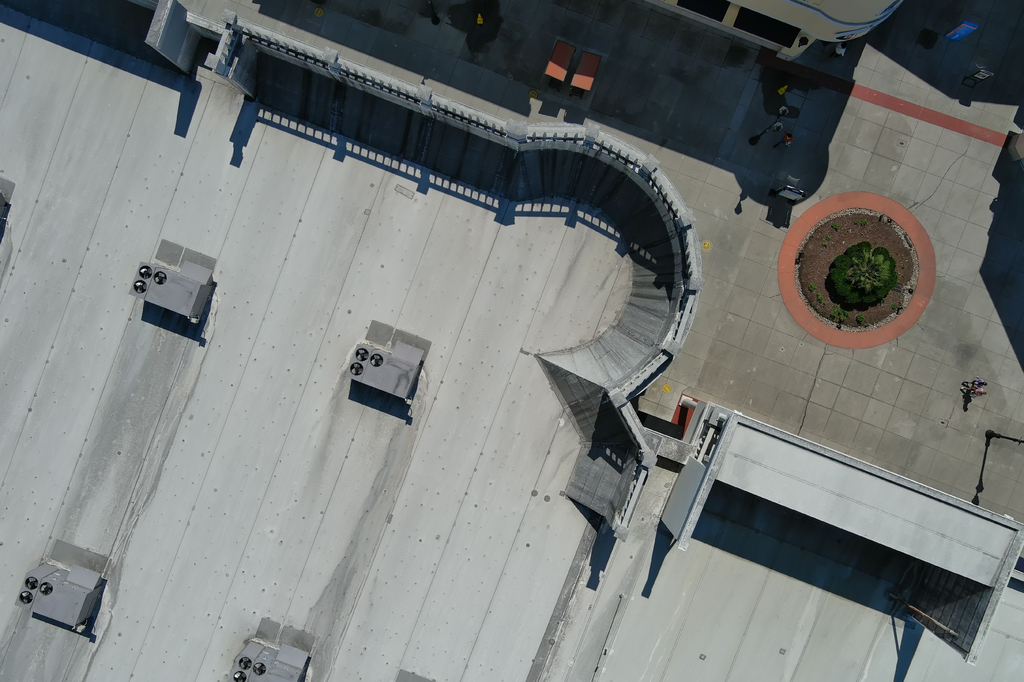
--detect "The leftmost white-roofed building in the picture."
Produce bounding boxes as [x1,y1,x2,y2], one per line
[0,0,701,682]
